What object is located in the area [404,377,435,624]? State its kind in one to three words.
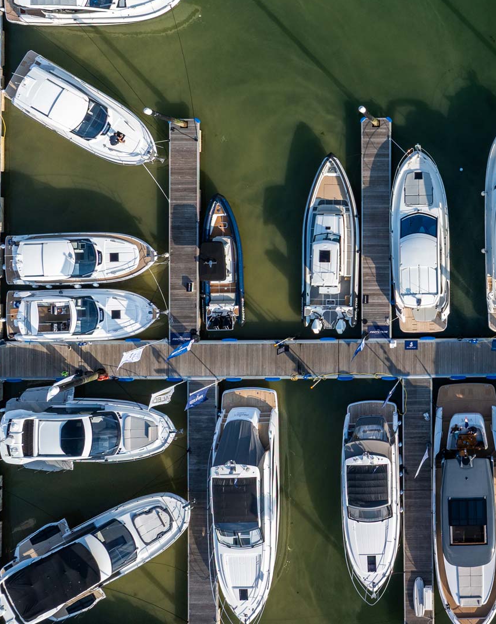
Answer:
pier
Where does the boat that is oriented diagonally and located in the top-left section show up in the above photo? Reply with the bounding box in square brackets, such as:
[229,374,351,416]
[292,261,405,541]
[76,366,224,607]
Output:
[6,51,165,165]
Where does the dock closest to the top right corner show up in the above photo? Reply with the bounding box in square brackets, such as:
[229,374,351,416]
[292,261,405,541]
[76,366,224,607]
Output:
[360,115,394,339]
